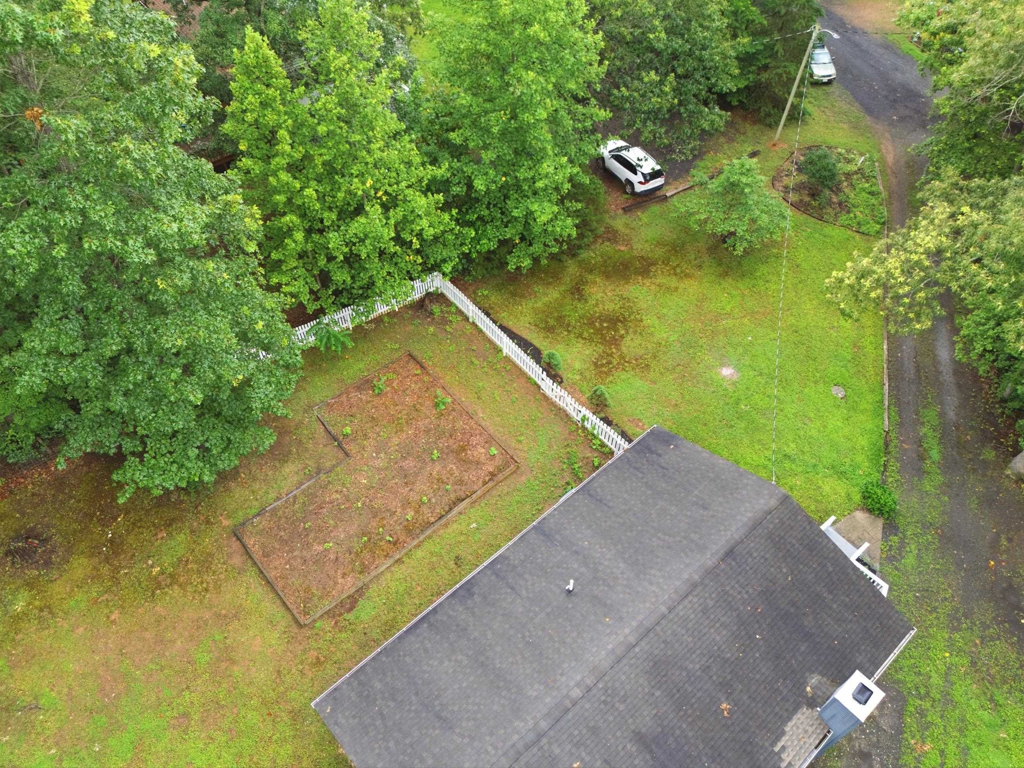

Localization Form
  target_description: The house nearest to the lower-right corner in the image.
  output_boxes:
[310,423,917,768]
